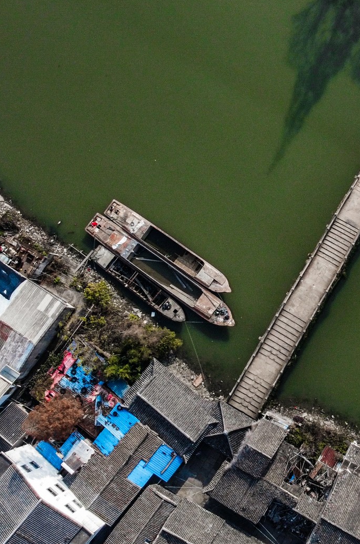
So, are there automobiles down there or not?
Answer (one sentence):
No, this view has no automobile in it.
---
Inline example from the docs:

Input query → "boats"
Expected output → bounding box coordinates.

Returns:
[84,212,236,329]
[103,196,234,295]
[91,245,187,323]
